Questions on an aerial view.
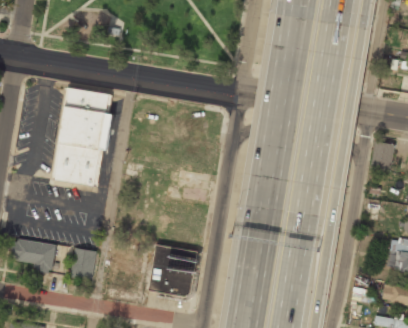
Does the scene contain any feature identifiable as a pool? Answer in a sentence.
No, no pool is visible in the view.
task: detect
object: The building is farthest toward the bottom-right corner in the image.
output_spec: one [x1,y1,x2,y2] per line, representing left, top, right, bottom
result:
[374,314,408,328]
